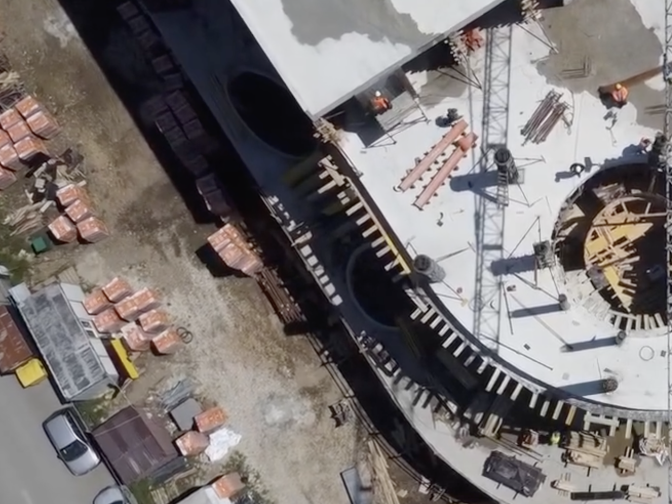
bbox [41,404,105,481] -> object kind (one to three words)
car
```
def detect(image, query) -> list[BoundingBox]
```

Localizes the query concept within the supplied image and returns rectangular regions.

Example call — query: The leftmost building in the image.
[16,279,127,401]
